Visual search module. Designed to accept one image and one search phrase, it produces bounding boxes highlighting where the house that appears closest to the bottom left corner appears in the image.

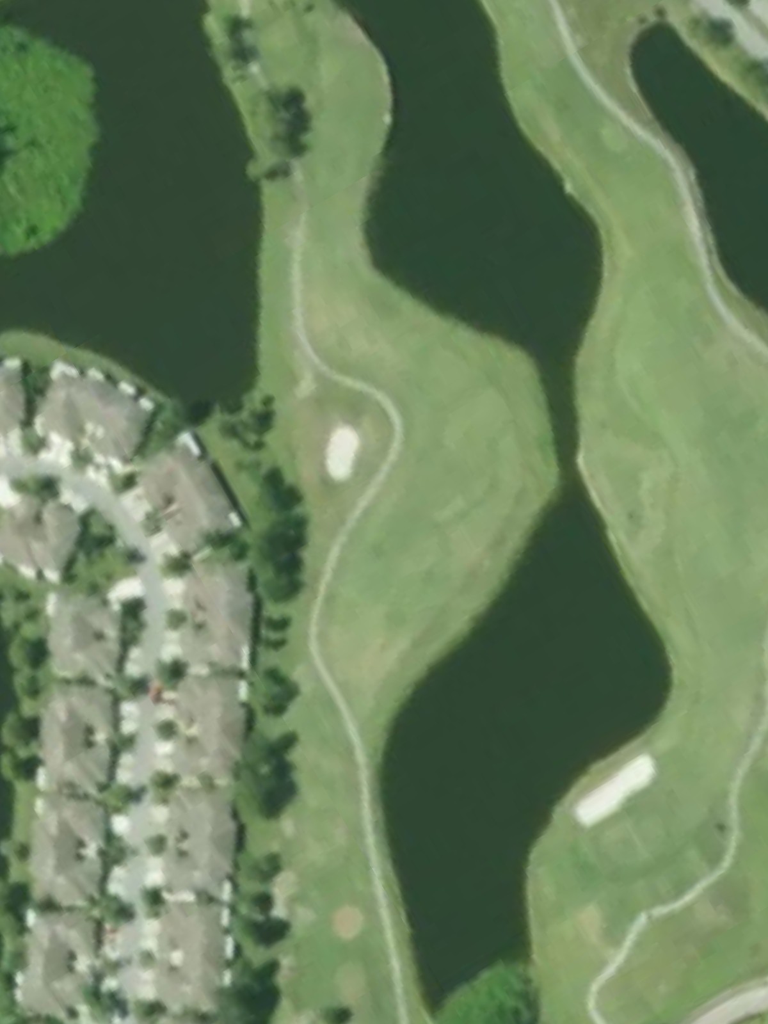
[13,909,97,1021]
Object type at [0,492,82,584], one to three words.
house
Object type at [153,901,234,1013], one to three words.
house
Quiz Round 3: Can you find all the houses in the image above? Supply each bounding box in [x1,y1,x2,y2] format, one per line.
[35,684,114,796]
[180,562,254,673]
[28,795,106,906]
[34,361,154,461]
[137,430,246,553]
[172,678,249,788]
[162,791,237,902]
[0,492,82,584]
[13,909,97,1021]
[153,901,234,1013]
[46,591,120,678]
[0,359,28,445]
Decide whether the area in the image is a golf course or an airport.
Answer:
golf course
